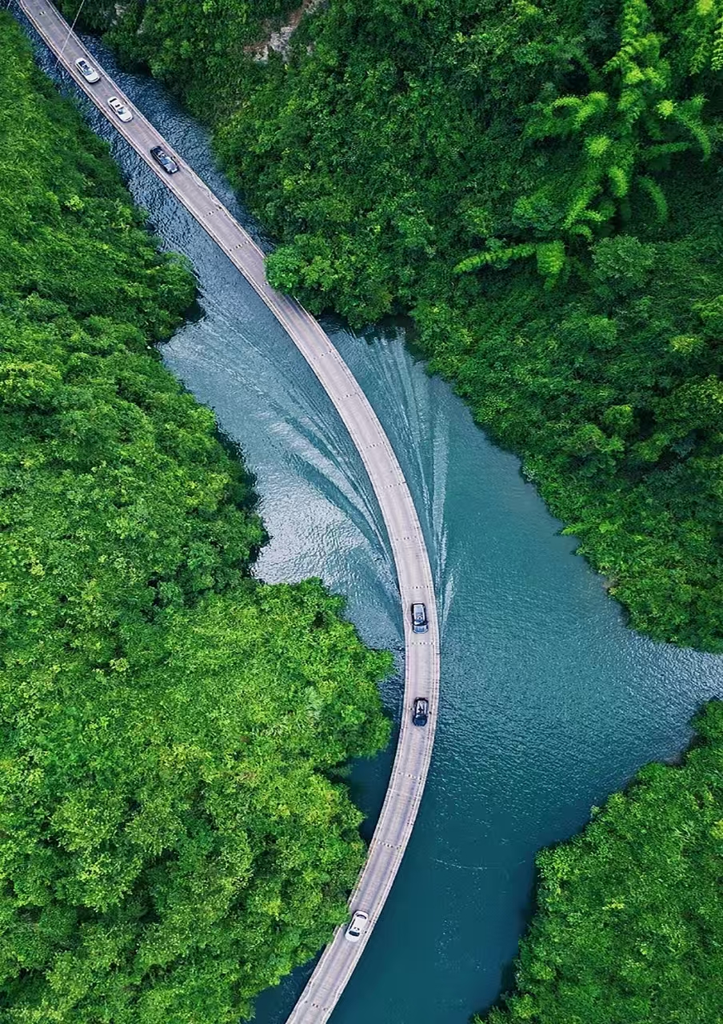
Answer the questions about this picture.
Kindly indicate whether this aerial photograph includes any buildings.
No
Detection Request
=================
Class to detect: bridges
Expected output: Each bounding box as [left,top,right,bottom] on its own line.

[15,0,439,1024]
